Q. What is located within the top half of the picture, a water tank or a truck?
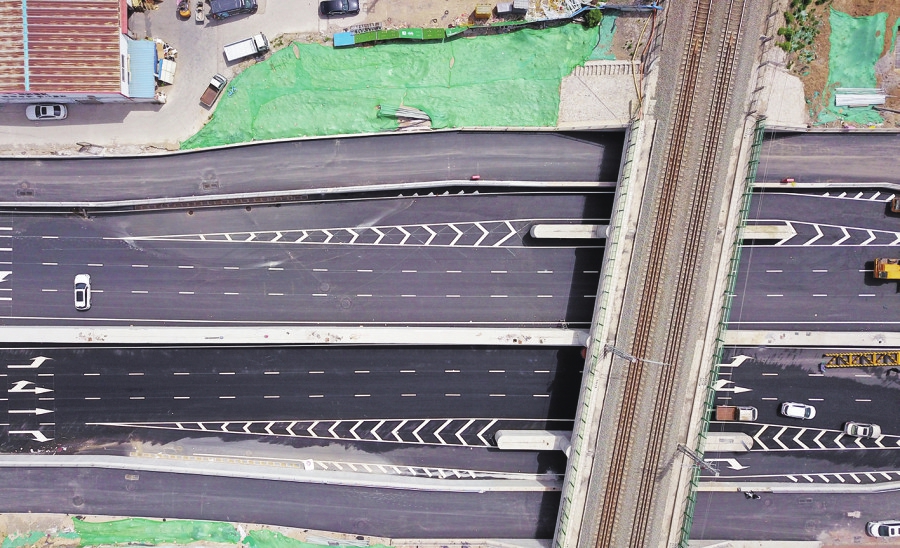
truck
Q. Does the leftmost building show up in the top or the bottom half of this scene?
top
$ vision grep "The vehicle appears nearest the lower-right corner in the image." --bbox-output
[865,518,900,538]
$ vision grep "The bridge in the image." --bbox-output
[541,0,763,548]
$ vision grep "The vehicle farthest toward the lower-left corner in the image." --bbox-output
[73,274,94,310]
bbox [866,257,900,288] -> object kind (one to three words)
truck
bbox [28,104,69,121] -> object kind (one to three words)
car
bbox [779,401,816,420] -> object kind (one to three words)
car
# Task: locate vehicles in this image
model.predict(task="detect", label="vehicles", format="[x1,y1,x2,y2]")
[321,0,359,15]
[779,401,816,420]
[205,0,260,23]
[200,74,228,108]
[221,31,274,63]
[842,420,881,438]
[866,257,900,288]
[865,518,900,538]
[715,405,758,423]
[28,104,69,121]
[73,274,94,310]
